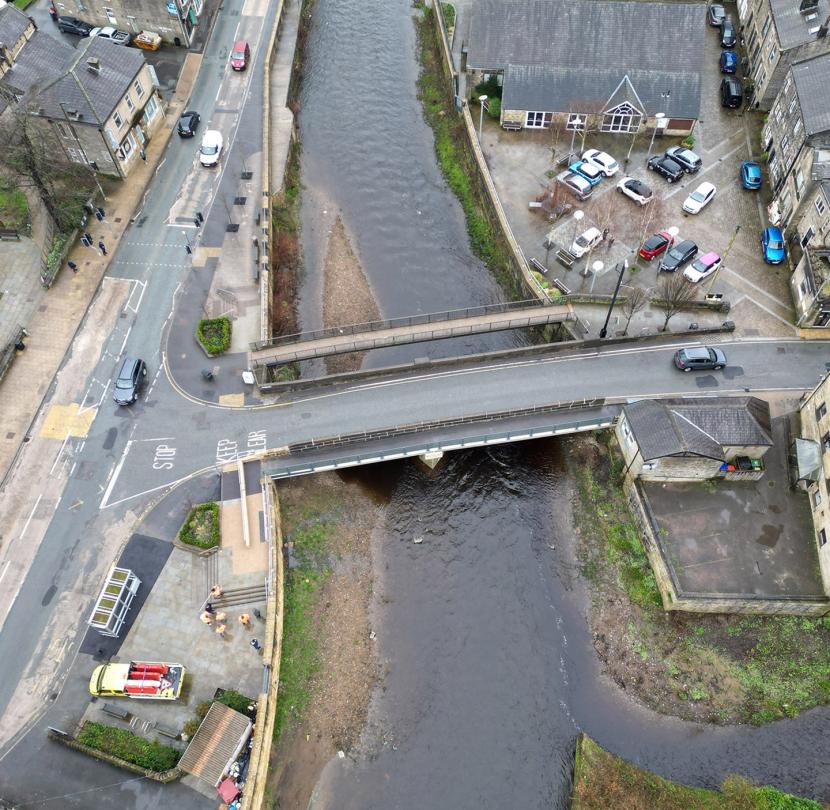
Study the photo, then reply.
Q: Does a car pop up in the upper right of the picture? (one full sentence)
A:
Yes, a car is visible in the upper right of the picture.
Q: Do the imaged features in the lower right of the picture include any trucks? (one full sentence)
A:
No, in the lower right of the picture there is no truck.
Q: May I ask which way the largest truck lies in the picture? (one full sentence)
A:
I'd say the largest truck is aligned horizontally in the picture.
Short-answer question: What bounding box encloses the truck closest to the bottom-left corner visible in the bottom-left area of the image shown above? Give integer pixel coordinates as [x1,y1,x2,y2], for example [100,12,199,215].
[81,656,182,701]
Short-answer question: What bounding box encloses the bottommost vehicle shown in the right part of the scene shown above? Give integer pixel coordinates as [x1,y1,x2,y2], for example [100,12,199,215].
[672,346,734,375]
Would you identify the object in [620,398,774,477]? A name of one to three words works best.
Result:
house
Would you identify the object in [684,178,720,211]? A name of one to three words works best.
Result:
car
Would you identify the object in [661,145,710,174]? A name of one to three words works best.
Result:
car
